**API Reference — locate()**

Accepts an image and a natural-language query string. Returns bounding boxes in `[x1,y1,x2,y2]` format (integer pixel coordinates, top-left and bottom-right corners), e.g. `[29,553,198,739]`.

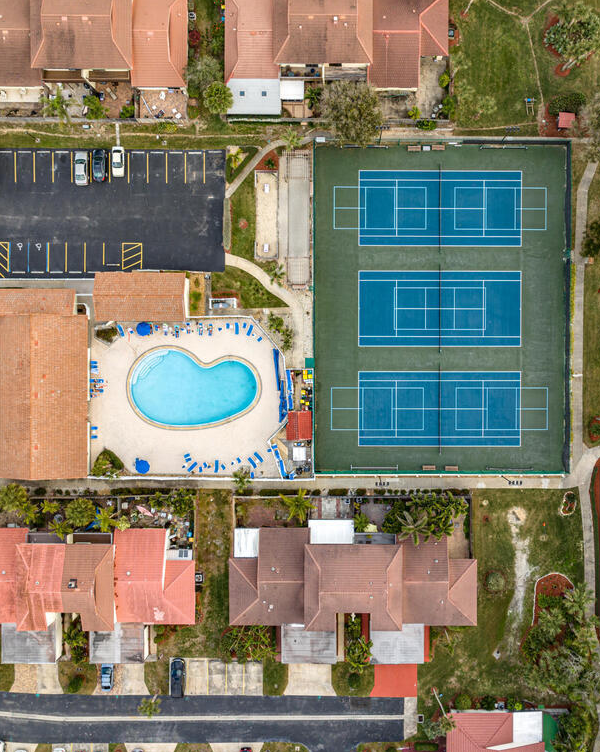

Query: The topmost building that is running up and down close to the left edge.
[0,289,92,479]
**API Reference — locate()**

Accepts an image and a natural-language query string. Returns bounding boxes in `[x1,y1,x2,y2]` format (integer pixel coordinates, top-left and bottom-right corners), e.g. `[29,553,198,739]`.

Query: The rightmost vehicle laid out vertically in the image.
[169,657,186,698]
